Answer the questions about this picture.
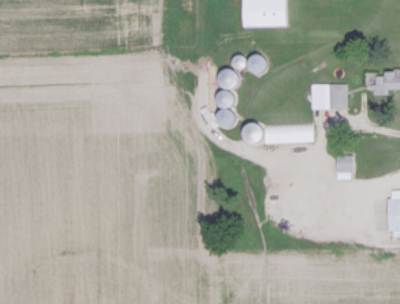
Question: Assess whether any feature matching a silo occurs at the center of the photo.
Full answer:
Yes, looking at the center of the photo, one can make out a silo.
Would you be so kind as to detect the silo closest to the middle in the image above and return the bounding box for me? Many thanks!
[216,109,238,132]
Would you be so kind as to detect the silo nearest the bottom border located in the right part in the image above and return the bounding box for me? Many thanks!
[242,122,265,147]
